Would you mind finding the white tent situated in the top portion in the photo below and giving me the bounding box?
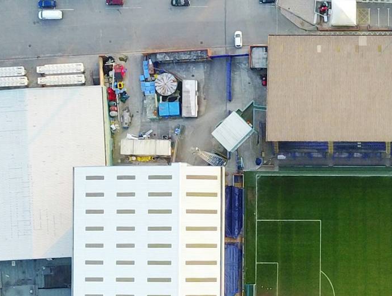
[331,0,357,28]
